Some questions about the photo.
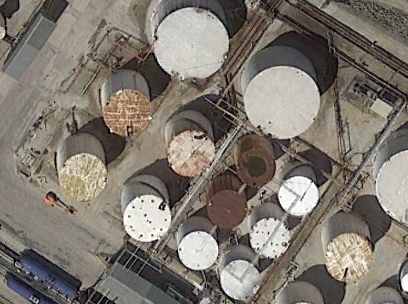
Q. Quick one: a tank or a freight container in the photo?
tank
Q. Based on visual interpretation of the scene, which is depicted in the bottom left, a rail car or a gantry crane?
rail car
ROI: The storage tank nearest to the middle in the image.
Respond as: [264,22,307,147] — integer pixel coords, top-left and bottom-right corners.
[163,109,216,177]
